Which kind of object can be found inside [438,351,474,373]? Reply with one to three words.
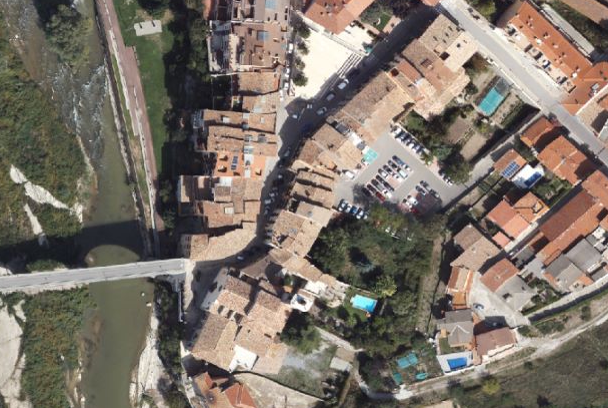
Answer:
swimming pool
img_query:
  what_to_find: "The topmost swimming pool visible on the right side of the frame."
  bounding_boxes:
[478,82,509,116]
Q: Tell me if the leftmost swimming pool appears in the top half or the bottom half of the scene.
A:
bottom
